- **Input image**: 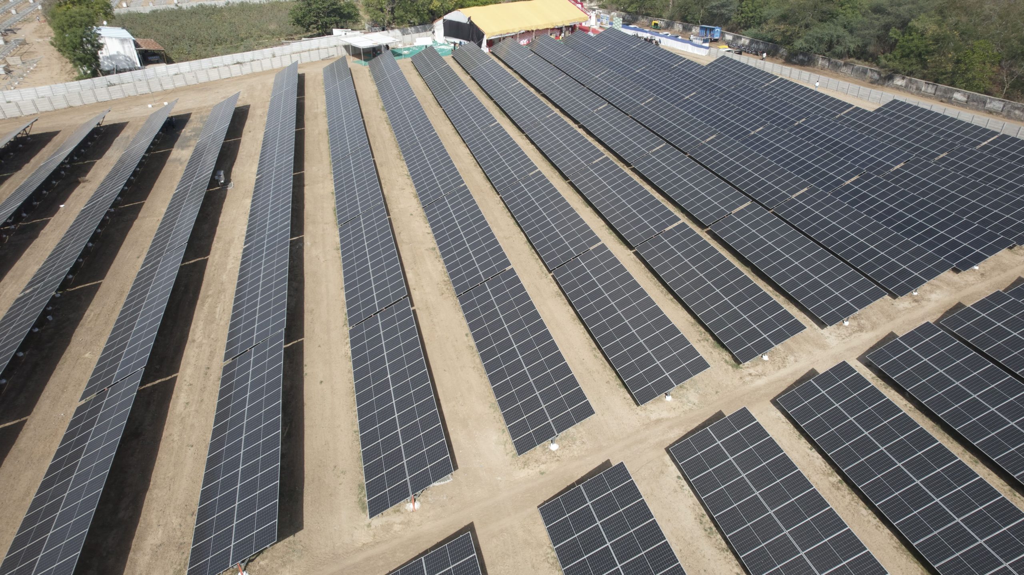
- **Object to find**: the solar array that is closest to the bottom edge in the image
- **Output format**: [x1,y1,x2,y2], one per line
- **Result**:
[392,532,479,575]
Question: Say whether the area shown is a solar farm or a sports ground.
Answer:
solar farm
